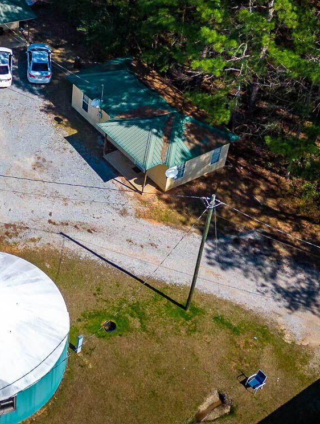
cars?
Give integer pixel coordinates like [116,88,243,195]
[0,46,15,88]
[25,41,55,83]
